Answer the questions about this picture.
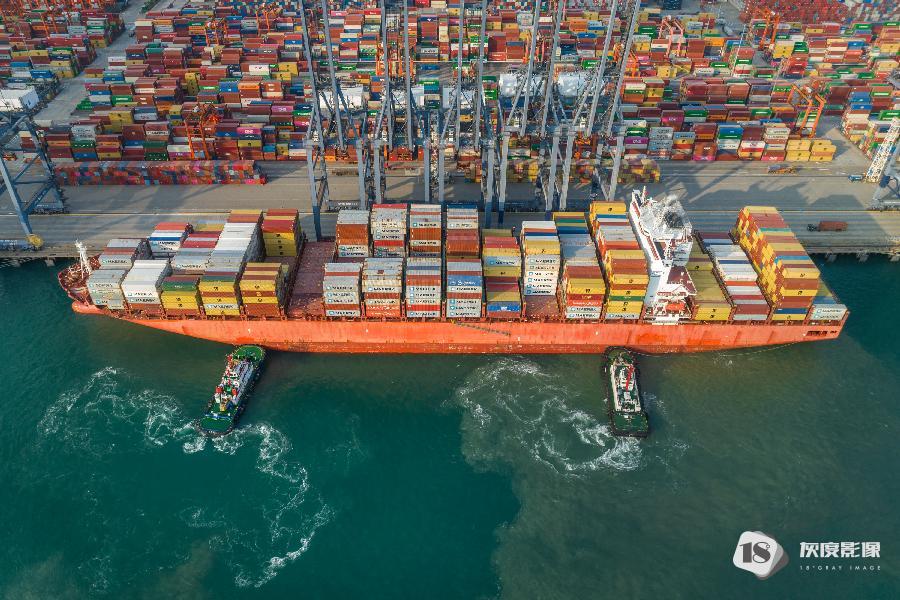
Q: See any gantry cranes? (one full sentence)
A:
Yes, there is a gantry crane in the image.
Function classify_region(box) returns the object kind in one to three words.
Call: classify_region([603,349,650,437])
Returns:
boat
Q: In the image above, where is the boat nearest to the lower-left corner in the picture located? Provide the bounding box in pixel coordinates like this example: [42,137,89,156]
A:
[198,348,266,435]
